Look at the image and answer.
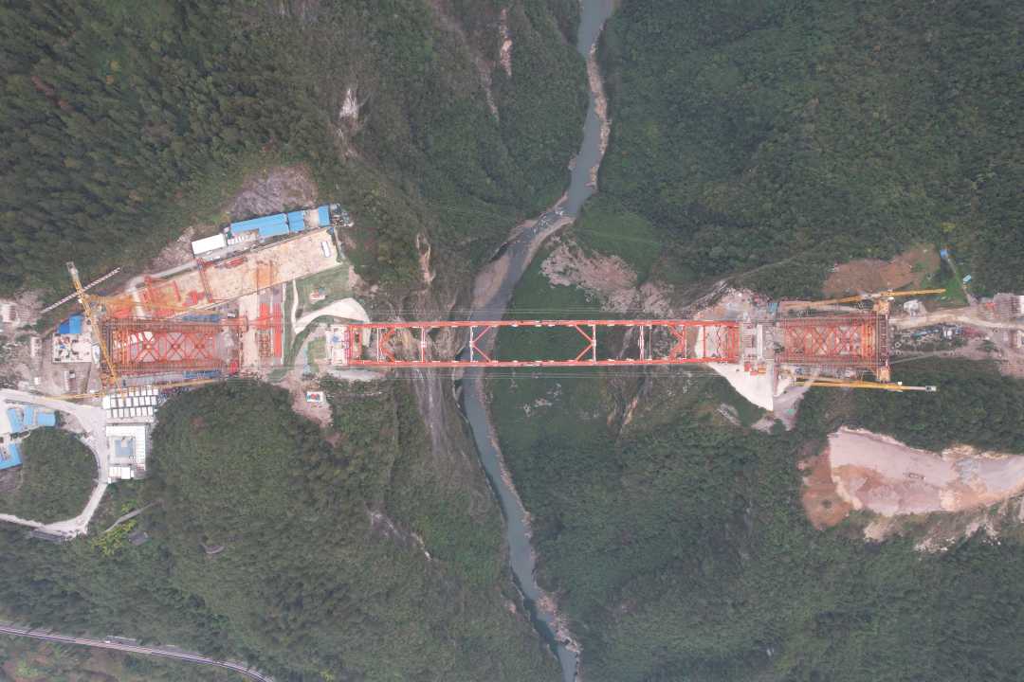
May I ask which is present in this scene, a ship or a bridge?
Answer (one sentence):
Of the two, only a bridge appears.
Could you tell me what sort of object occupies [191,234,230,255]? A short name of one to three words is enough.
shed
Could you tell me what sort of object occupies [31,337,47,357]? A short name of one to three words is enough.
house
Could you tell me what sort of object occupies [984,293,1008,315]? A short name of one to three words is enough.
building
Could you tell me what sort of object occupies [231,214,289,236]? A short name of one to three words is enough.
shed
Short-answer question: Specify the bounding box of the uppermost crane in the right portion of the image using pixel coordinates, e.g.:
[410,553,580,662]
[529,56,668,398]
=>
[776,288,947,313]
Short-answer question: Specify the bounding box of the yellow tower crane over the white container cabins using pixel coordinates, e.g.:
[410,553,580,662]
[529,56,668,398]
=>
[45,371,230,402]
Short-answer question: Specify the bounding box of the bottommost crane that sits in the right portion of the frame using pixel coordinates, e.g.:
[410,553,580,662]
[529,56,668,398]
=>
[782,370,937,393]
